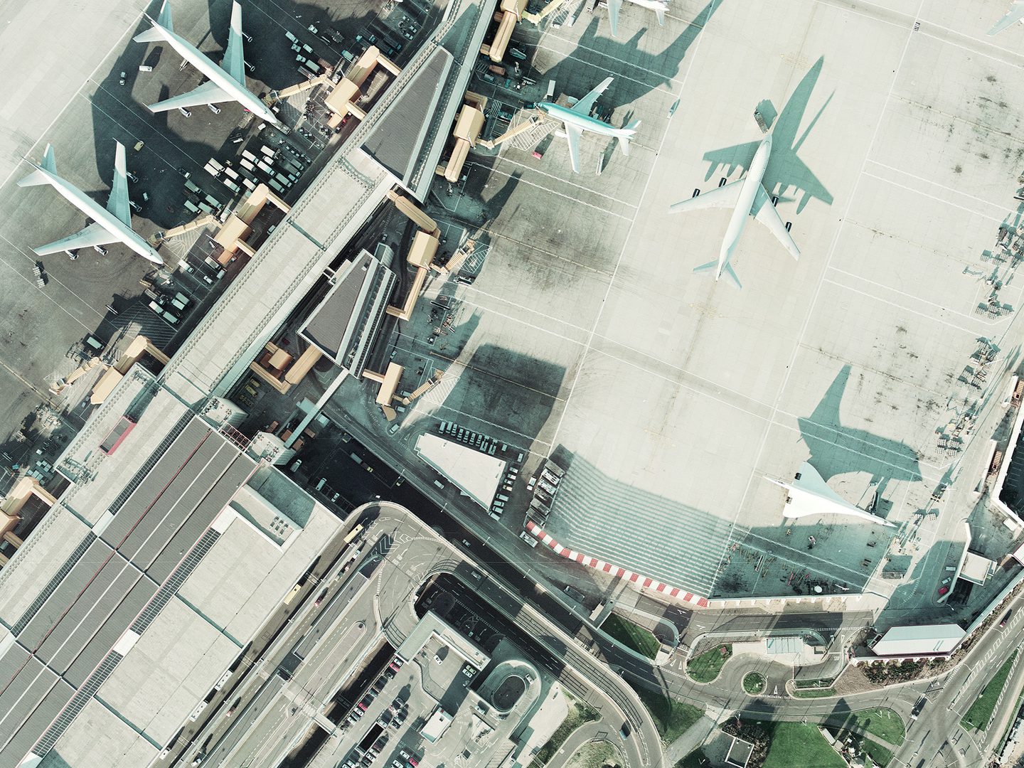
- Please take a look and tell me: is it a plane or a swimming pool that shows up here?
plane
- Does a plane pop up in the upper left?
Yes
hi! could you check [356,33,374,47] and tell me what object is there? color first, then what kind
black vehicle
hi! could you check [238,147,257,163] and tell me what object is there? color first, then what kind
white vehicle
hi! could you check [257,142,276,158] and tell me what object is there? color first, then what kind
white vehicle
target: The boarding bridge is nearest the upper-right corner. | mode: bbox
[527,0,570,25]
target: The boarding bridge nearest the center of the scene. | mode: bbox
[397,372,445,404]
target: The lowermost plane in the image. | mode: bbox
[770,457,896,527]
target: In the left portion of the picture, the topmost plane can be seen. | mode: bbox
[137,0,278,124]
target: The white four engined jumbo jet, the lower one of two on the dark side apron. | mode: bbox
[20,139,162,265]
